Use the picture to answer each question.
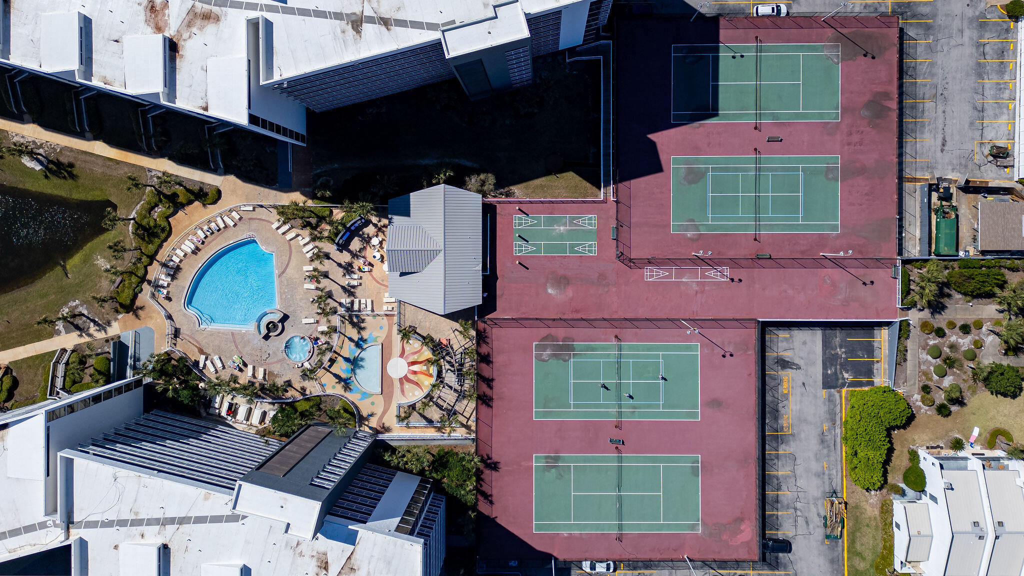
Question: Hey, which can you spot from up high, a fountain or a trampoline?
fountain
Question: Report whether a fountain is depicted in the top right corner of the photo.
No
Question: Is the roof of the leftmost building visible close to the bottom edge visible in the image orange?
No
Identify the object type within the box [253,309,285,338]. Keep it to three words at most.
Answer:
fountain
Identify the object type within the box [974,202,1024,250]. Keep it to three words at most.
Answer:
building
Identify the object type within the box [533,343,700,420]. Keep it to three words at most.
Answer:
tennis court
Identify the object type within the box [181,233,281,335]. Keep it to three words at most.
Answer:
swimming pool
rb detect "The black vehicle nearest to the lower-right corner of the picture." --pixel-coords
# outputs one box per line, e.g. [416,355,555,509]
[758,538,792,555]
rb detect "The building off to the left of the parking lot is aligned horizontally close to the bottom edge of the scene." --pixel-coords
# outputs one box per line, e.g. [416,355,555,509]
[0,376,445,576]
